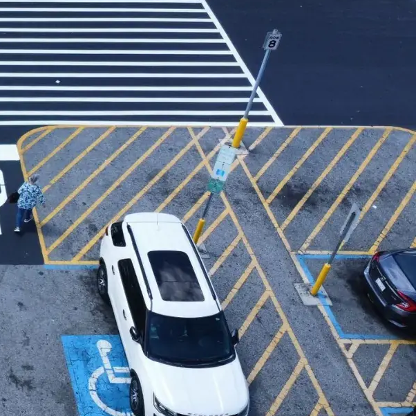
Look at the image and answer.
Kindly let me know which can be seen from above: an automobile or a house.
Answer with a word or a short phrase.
automobile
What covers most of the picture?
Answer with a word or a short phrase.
paved ground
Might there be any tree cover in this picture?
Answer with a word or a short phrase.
No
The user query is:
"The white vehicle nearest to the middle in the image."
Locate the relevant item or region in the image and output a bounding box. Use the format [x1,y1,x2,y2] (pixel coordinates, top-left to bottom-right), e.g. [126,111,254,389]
[94,211,252,416]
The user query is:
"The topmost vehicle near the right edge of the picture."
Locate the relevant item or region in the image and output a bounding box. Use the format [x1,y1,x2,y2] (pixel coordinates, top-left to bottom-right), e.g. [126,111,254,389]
[367,245,416,327]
